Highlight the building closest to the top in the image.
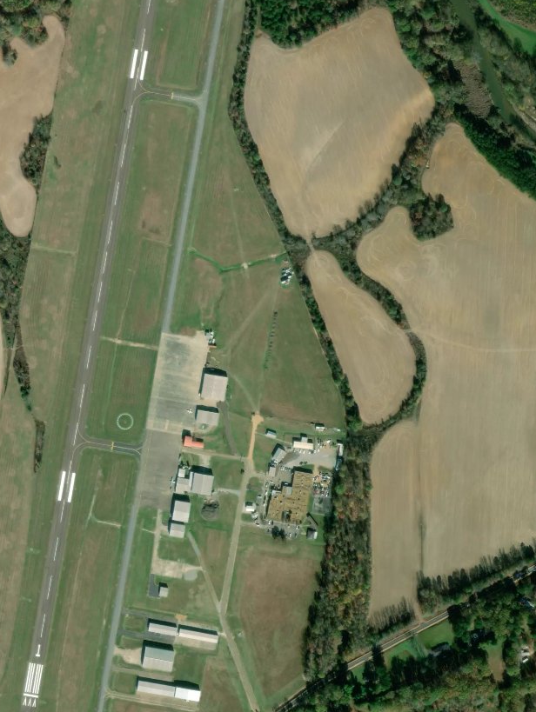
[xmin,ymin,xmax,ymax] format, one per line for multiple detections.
[201,374,228,401]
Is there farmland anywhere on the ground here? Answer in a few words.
Yes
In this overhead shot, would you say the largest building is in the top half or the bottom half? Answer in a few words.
bottom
